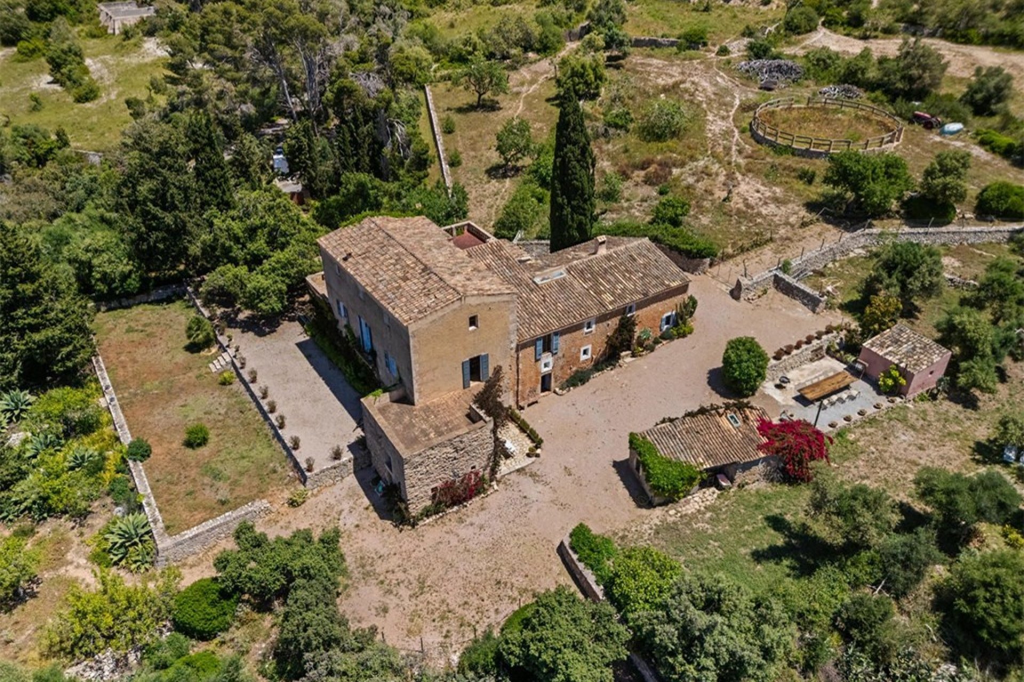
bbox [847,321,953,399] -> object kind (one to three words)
shed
